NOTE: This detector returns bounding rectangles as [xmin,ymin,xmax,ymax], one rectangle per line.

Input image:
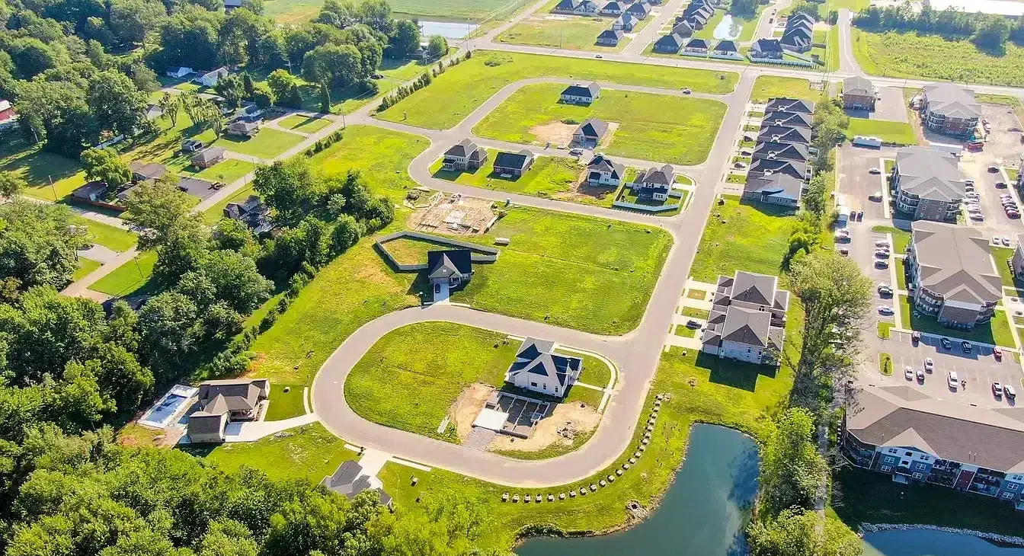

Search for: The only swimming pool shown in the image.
[145,394,188,424]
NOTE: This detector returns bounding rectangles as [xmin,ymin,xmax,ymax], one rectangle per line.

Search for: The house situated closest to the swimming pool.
[183,372,284,442]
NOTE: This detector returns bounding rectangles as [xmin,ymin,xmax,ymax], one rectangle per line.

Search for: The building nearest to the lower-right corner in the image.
[839,376,1024,503]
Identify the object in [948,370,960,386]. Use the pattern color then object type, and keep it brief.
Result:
white vehicle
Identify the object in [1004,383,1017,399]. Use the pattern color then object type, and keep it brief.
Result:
white vehicle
